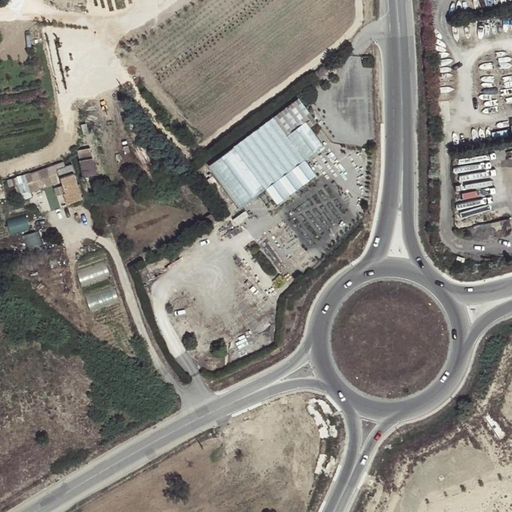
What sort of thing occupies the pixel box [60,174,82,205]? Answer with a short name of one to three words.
house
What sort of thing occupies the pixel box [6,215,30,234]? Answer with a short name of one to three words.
shed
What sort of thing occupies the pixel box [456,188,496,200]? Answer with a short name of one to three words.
vehicle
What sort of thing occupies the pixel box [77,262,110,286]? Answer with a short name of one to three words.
greenhouse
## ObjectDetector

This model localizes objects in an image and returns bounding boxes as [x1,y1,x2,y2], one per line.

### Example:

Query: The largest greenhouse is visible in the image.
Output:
[208,118,304,208]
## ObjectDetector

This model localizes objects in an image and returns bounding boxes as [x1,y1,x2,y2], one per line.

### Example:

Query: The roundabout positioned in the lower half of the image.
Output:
[308,257,473,422]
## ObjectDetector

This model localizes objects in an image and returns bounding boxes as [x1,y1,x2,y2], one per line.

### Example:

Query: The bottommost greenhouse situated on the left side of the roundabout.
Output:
[86,285,118,310]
